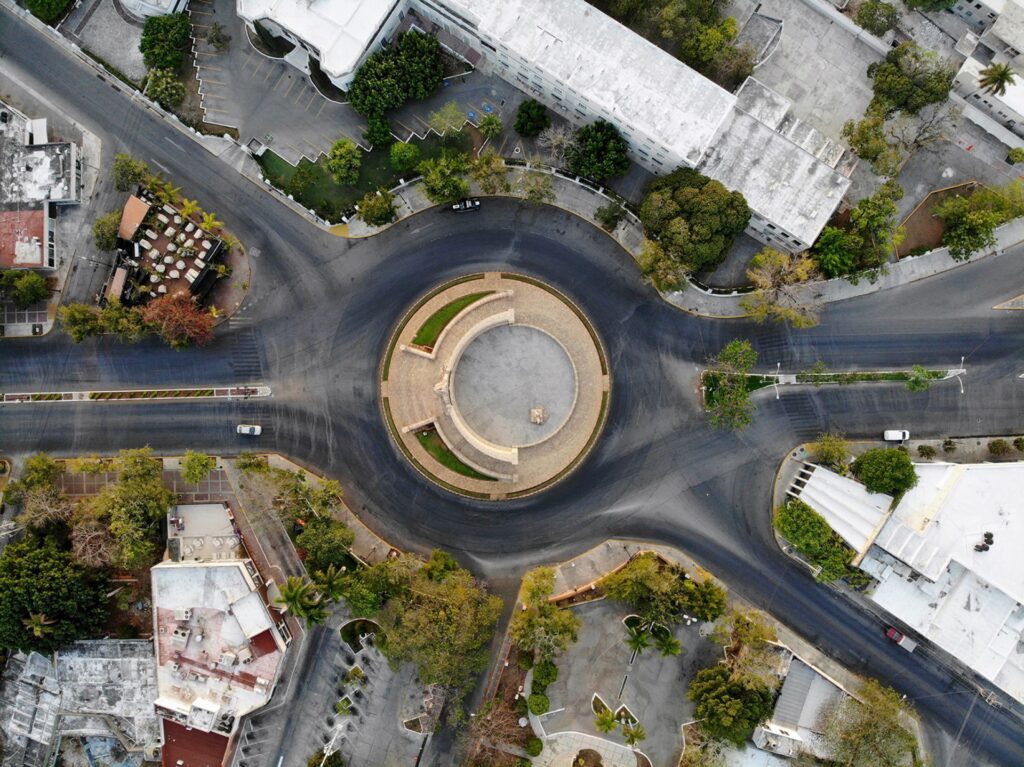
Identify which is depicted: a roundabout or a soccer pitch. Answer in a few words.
roundabout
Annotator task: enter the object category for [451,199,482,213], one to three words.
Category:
vehicle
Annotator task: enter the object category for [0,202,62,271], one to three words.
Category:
building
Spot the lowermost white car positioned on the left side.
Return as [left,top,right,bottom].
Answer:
[237,424,262,436]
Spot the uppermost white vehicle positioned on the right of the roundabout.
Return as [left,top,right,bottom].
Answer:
[883,429,910,444]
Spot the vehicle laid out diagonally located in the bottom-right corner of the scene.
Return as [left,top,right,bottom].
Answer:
[885,627,920,653]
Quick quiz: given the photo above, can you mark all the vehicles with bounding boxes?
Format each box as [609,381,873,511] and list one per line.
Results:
[451,199,482,213]
[883,429,910,444]
[237,424,262,436]
[885,627,920,653]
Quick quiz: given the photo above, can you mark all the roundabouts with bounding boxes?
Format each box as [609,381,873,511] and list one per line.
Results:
[324,214,668,558]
